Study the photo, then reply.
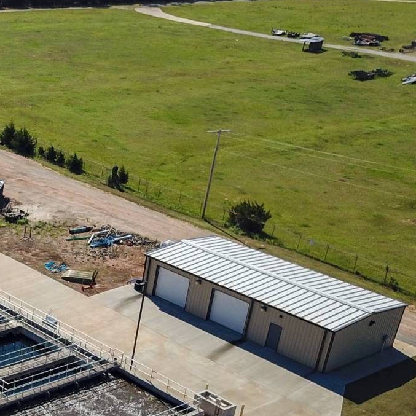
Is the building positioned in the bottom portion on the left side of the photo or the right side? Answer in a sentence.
It is on the right.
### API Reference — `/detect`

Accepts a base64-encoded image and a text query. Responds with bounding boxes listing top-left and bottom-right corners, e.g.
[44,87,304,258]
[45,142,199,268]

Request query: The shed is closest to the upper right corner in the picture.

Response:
[300,37,333,52]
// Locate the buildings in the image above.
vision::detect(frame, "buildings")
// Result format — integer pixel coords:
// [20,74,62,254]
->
[300,37,333,52]
[137,232,406,376]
